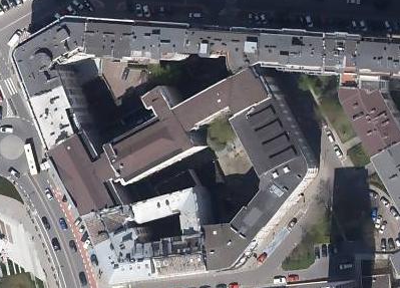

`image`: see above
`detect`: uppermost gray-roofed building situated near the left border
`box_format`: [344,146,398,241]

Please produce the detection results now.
[12,11,93,97]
